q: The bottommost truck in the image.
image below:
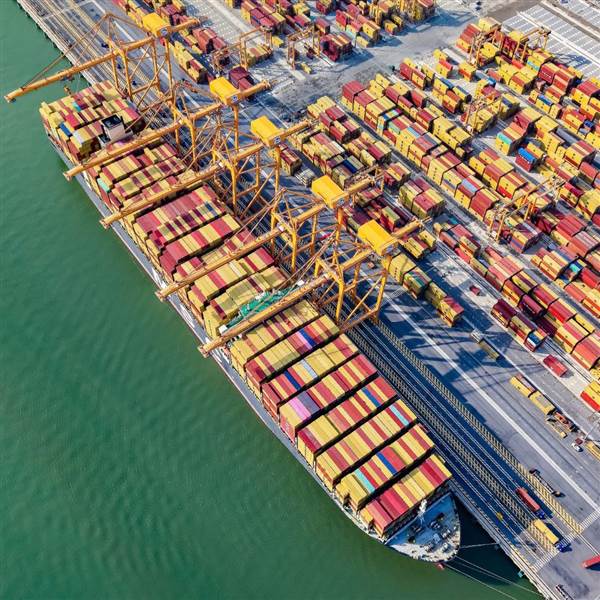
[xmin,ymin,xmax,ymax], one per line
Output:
[547,578,570,600]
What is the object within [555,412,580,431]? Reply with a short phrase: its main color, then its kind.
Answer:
red work vehicle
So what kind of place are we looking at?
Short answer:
port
